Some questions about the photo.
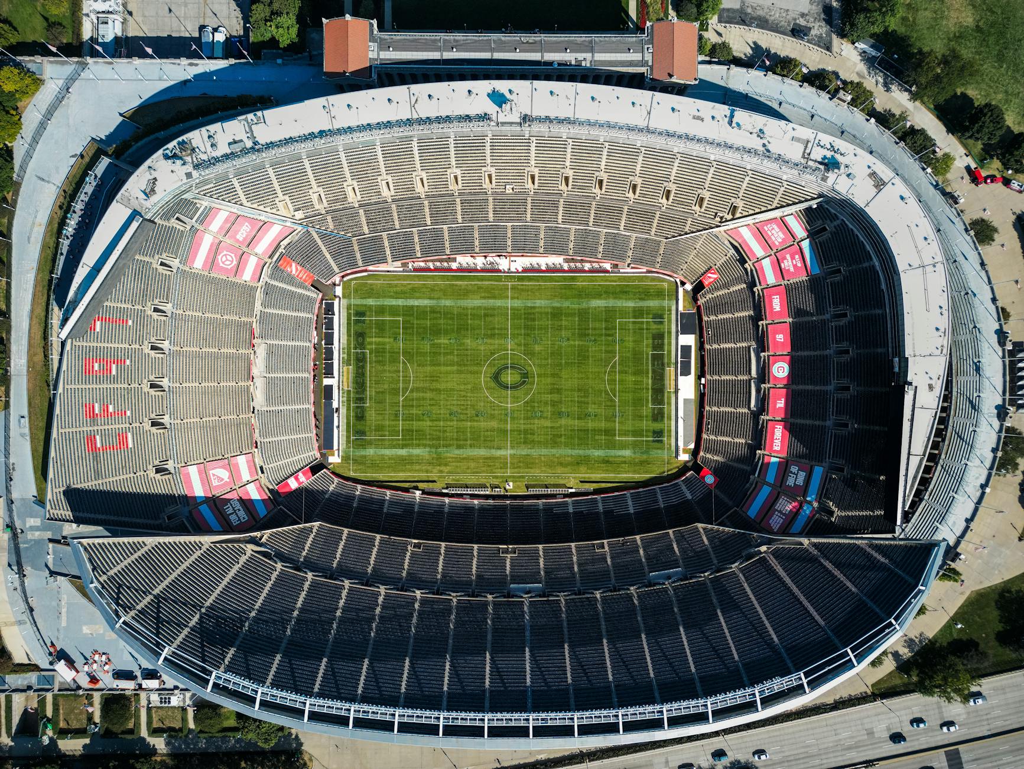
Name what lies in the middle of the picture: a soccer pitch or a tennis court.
soccer pitch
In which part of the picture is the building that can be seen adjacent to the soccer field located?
top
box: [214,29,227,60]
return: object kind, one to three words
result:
vehicle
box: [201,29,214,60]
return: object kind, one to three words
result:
vehicle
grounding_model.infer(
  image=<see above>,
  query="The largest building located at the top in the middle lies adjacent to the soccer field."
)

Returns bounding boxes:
[322,9,700,98]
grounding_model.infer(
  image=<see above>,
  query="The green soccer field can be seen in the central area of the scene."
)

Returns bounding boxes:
[330,272,692,499]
